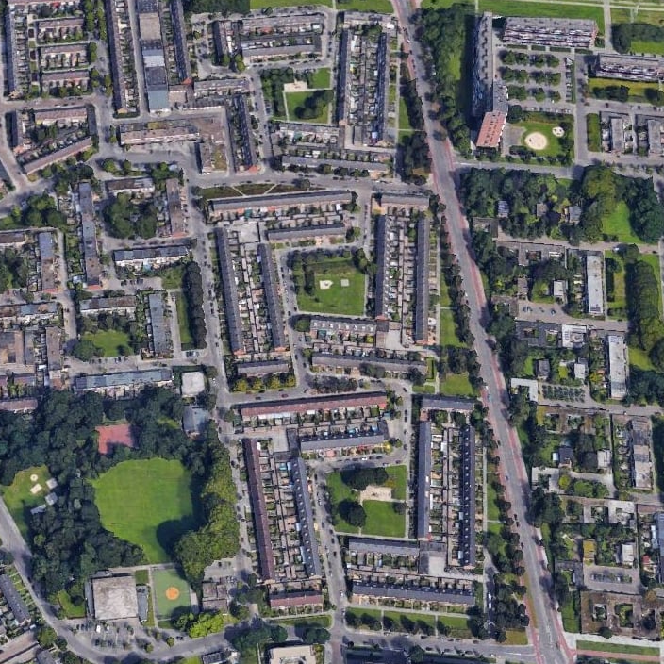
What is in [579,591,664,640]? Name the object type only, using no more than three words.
building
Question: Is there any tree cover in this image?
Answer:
Yes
